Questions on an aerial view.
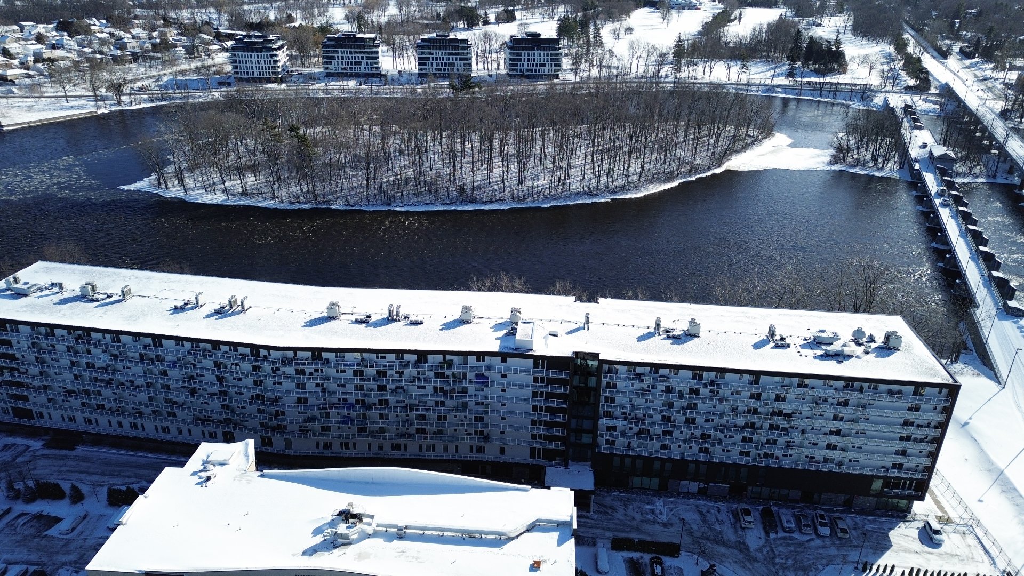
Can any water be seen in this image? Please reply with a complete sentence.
Yes, there's water in this view.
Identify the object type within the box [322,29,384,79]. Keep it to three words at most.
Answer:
building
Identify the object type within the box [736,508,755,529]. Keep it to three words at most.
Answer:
car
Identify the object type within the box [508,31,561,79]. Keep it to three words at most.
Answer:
building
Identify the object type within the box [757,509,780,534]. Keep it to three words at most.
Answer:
car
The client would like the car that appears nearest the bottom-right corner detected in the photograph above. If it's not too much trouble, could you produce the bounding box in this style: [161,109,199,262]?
[918,519,951,546]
